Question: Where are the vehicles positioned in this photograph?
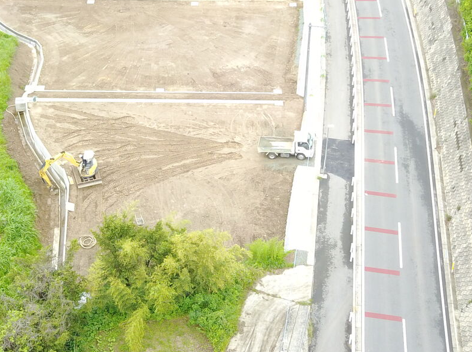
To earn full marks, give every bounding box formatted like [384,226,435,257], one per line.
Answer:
[39,147,98,192]
[258,131,315,163]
